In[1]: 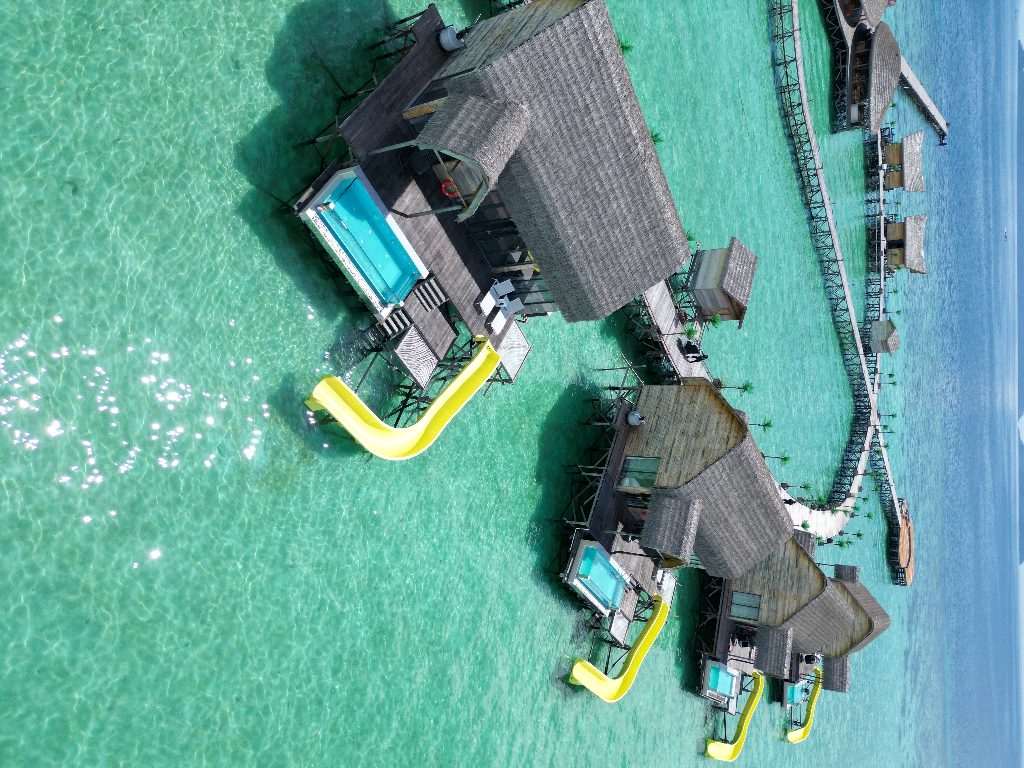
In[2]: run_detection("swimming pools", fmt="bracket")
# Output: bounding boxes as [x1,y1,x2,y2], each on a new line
[245,156,431,338]
[531,534,632,635]
[766,680,810,721]
[678,657,742,720]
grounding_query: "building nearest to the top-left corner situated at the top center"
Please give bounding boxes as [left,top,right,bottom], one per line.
[282,0,693,409]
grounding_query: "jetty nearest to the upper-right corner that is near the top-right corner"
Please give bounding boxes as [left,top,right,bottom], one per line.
[896,51,948,139]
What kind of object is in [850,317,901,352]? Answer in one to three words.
shed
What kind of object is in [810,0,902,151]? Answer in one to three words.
building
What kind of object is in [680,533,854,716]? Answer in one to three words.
house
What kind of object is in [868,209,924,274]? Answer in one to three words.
house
